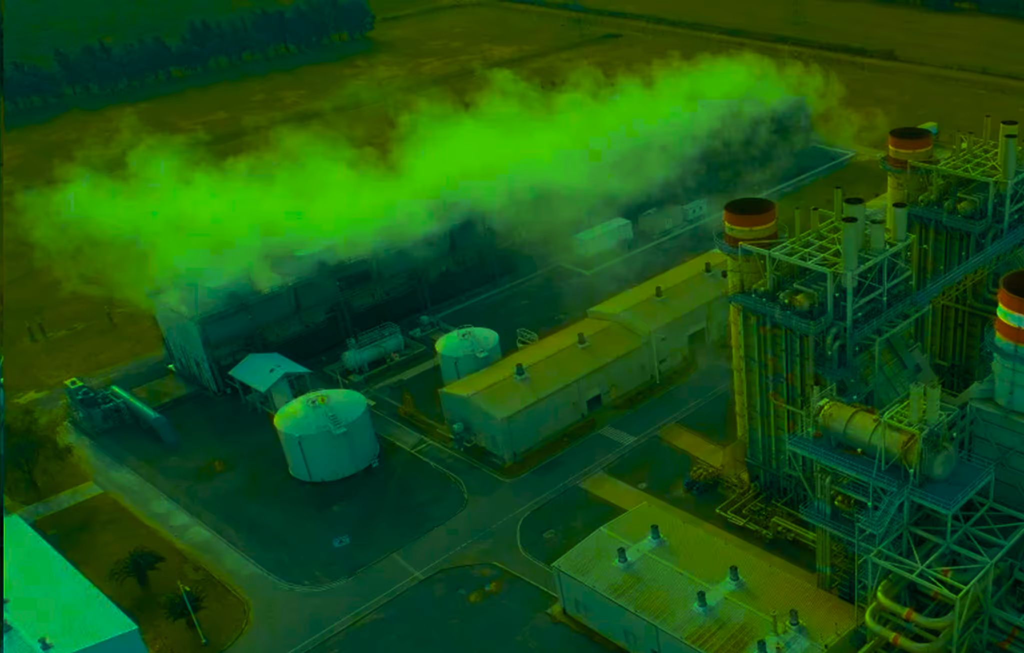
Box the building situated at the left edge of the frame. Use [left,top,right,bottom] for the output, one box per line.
[0,514,147,653]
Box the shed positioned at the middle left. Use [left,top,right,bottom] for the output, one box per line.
[230,352,316,419]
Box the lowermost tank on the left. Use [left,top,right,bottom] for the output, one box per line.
[273,387,388,483]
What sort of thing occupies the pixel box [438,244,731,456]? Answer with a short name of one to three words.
building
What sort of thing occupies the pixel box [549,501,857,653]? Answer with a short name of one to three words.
warehouse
